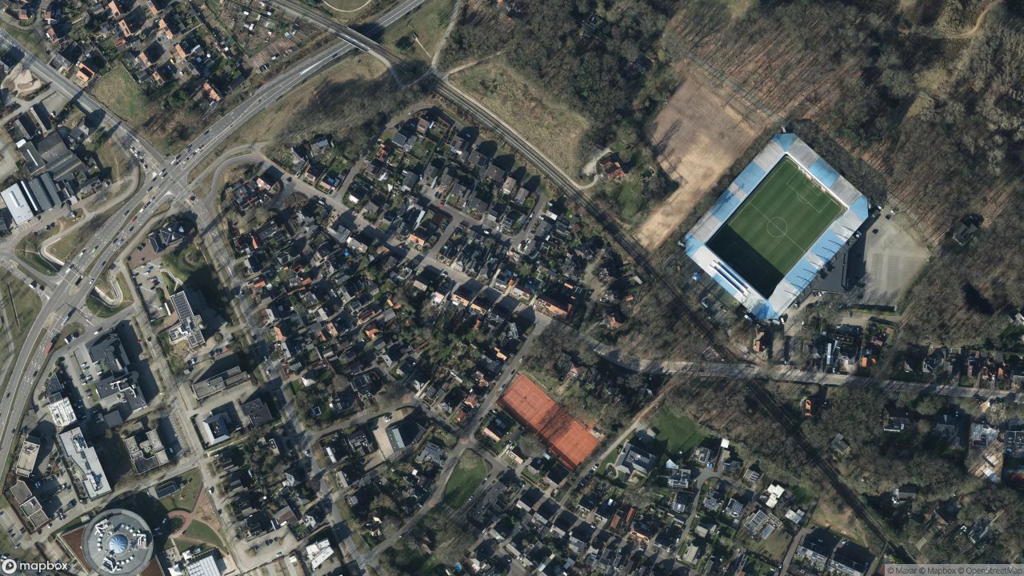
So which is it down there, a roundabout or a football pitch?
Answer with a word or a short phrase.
football pitch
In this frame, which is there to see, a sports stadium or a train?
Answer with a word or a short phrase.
sports stadium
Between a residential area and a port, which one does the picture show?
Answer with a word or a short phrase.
residential area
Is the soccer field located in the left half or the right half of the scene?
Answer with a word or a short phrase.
right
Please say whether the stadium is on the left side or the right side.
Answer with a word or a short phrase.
right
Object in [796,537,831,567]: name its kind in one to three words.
house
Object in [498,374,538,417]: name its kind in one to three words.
tennis court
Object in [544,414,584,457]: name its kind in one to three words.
tennis court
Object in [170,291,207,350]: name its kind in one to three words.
building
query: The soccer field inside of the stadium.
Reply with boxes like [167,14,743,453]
[708,154,847,298]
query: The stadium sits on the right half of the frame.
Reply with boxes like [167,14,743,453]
[685,134,868,319]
